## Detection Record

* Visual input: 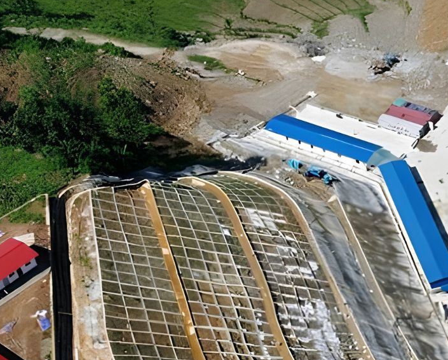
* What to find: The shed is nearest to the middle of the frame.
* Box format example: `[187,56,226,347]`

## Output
[263,113,381,170]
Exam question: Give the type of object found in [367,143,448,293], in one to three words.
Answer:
shed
